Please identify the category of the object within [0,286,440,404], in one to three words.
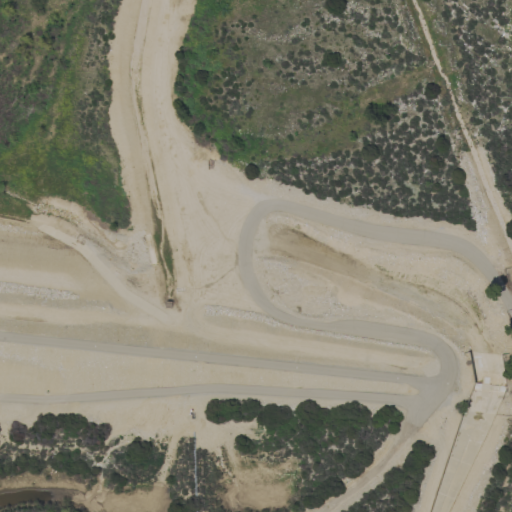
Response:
dam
